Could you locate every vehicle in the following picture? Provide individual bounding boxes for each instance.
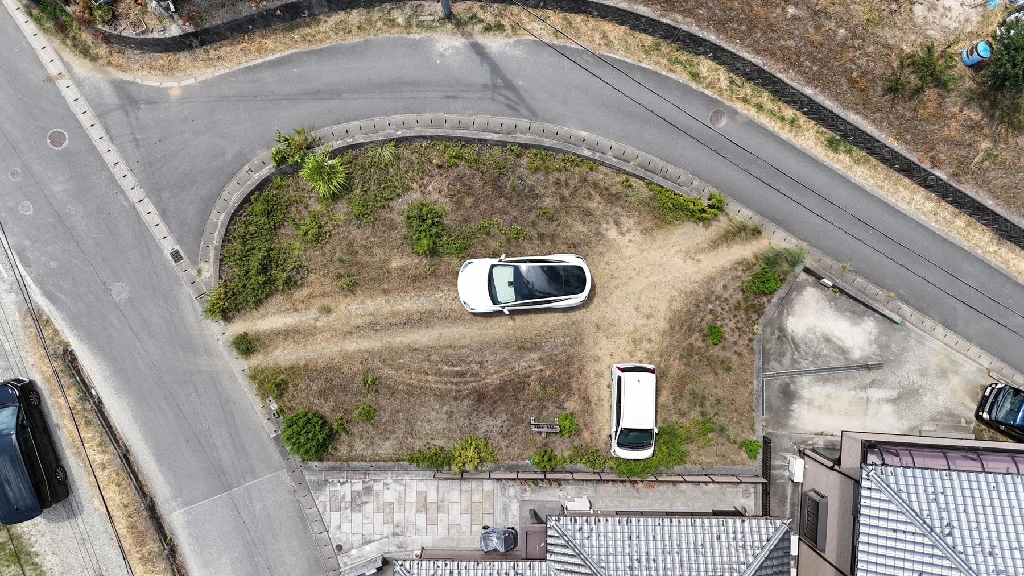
[459,251,593,318]
[610,362,663,459]
[0,375,67,524]
[972,387,1024,435]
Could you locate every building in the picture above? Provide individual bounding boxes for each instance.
[797,428,1024,576]
[390,497,794,576]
